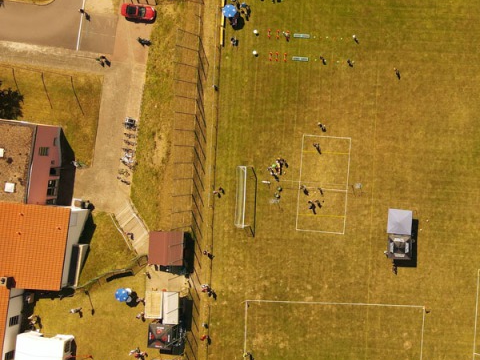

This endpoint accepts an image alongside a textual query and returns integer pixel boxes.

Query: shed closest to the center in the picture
[146,233,187,268]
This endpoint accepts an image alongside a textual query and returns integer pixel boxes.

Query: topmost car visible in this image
[123,5,156,22]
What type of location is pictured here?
sports ground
